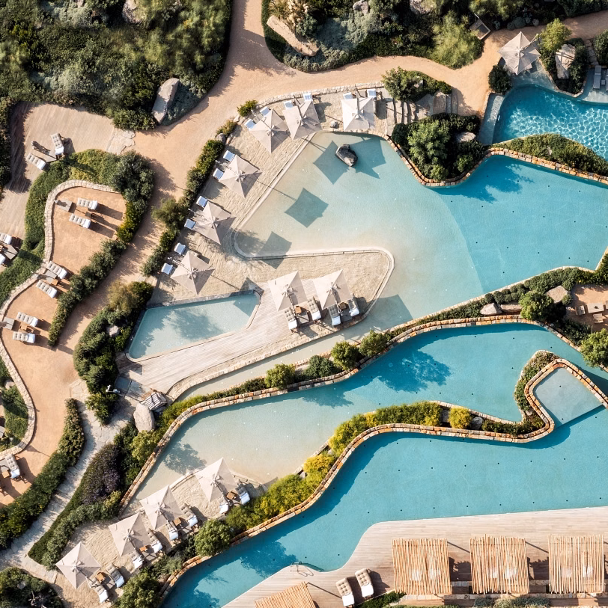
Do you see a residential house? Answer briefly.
No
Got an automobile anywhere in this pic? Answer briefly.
No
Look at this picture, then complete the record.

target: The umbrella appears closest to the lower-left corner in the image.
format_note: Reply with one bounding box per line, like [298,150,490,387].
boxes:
[57,541,113,587]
